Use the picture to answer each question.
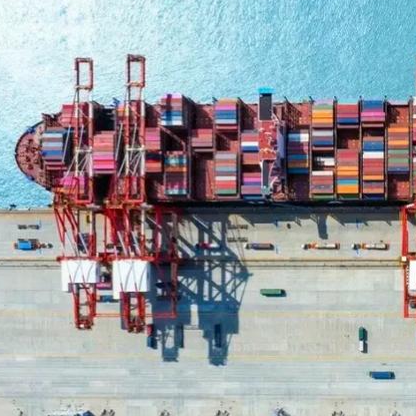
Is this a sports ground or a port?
port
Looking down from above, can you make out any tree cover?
No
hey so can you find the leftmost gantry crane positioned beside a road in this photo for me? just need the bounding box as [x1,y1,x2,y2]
[52,57,136,335]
